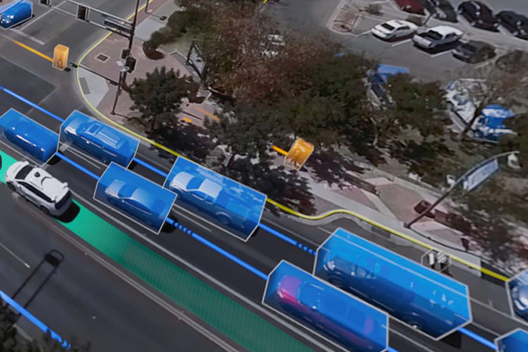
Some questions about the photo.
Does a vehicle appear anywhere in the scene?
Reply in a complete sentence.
Yes, this view includes a vehicle.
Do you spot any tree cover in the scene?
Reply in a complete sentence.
Yes, some tree cover is visible.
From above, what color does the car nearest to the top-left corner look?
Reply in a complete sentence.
The color of the car nearest to the top-left corner is blue.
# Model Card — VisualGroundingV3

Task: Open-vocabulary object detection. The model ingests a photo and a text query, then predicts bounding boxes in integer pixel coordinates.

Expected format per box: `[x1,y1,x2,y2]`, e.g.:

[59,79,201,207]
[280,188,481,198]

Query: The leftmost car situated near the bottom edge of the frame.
[277,282,386,352]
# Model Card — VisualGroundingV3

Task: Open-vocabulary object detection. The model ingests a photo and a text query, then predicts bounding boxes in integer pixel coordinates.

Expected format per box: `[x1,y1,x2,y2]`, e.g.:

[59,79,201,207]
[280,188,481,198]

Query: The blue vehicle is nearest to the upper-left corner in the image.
[0,0,33,29]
